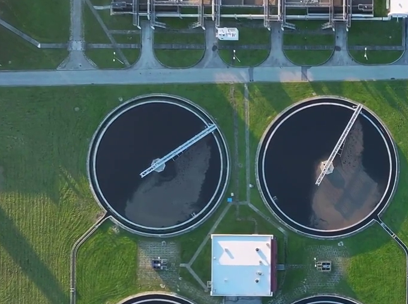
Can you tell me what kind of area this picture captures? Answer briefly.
industrial area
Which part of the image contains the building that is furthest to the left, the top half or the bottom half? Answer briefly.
bottom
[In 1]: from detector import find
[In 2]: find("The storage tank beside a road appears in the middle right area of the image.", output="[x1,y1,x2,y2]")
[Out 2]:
[254,95,400,241]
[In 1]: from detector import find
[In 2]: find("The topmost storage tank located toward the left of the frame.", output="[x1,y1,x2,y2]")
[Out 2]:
[87,93,234,239]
